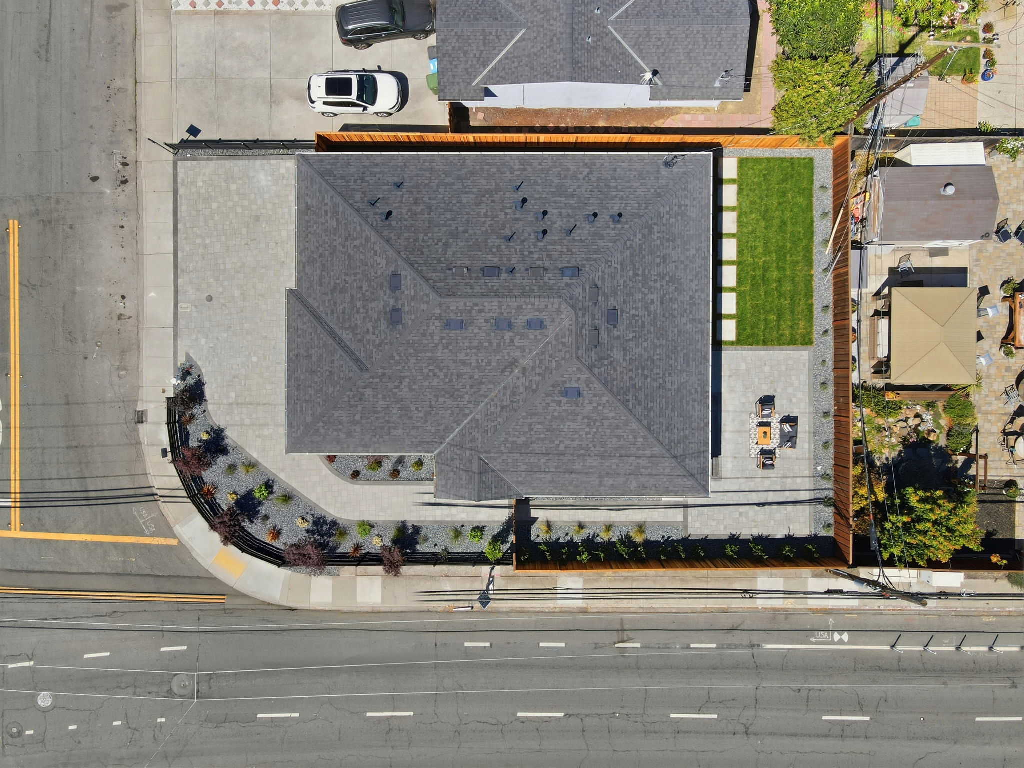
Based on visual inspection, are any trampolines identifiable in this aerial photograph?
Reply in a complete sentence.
No, the scene contains no trampoline.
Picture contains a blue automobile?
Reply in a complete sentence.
No, there appears to be no blue automobile in this shot.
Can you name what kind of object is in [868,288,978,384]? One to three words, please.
gazebo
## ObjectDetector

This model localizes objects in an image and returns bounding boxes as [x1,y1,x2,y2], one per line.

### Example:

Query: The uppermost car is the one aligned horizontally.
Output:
[332,0,437,48]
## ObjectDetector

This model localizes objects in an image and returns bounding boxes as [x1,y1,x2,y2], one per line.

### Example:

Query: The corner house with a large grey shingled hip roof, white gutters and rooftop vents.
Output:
[284,151,714,502]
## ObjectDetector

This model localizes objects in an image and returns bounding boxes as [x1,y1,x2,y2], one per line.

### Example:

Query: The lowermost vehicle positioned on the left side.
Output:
[306,65,402,118]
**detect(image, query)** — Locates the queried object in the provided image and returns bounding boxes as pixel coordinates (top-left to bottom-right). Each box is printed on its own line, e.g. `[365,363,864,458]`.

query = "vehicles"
[332,0,437,48]
[306,65,402,118]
